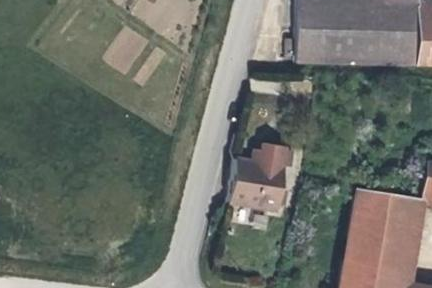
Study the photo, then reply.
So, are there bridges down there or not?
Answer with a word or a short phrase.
No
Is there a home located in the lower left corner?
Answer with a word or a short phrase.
No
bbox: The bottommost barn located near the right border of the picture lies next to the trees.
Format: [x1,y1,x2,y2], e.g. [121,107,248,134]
[334,188,432,288]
